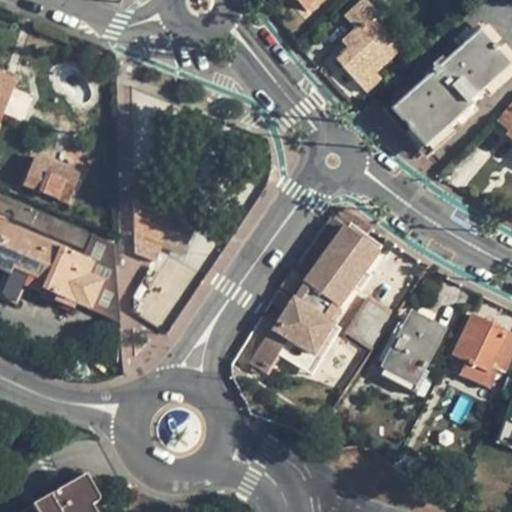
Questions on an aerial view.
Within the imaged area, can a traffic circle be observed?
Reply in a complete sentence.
Yes, there's a traffic circle here.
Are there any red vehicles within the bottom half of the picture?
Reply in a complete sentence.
No, I can find no red vehicle within the bottom half of the picture.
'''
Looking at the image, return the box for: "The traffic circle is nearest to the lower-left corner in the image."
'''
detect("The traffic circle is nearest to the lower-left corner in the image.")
[152,402,206,457]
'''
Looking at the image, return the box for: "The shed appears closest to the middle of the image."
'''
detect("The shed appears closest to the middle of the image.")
[187,231,218,270]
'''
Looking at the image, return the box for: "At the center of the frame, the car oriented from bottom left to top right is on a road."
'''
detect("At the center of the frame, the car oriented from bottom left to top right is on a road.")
[266,248,283,268]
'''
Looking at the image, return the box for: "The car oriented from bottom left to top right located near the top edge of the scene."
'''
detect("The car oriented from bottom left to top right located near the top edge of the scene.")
[326,23,345,44]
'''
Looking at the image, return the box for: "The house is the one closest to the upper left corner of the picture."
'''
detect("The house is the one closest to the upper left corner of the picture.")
[0,66,34,121]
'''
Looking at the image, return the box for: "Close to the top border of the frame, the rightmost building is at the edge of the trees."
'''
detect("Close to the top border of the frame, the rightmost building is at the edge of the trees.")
[393,24,512,154]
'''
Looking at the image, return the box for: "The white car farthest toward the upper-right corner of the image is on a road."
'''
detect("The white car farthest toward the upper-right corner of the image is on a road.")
[377,153,398,172]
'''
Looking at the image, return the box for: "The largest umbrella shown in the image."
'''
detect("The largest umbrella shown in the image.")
[439,429,454,445]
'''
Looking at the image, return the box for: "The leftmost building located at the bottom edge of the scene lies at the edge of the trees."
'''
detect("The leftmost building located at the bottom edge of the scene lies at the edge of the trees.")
[34,472,106,512]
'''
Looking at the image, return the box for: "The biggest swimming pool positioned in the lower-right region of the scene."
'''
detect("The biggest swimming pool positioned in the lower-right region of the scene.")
[450,394,472,422]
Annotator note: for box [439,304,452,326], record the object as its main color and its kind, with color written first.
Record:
white vehicle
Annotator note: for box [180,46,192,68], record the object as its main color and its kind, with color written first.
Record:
white vehicle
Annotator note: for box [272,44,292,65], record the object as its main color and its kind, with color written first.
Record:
white car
